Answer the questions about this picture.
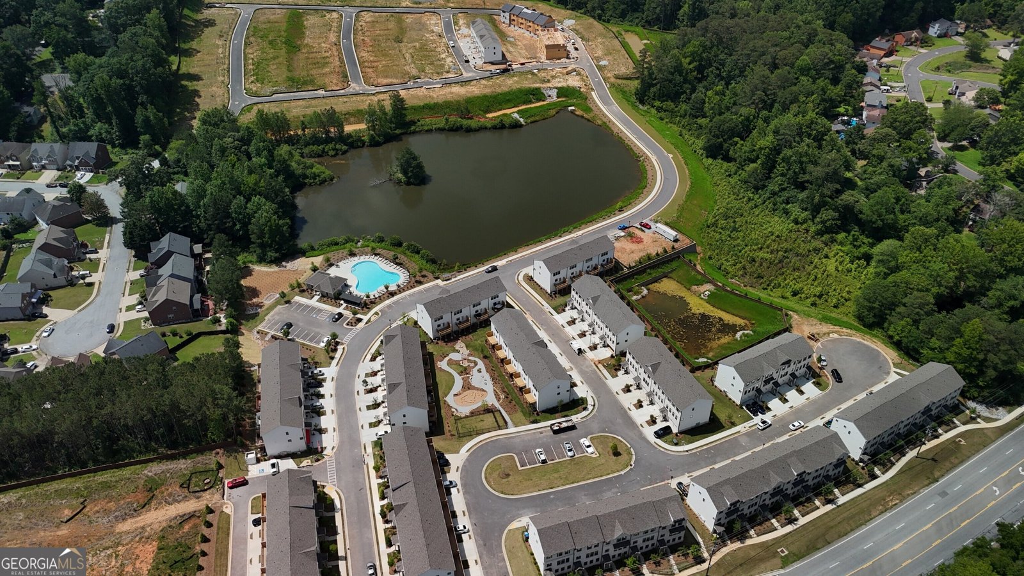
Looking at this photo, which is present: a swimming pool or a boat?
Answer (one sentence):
Visible in the photo is a swimming pool.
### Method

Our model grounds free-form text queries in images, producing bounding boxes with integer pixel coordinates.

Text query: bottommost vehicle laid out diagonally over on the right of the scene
[674,479,689,499]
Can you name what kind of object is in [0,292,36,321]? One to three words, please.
house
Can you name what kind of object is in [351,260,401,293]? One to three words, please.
swimming pool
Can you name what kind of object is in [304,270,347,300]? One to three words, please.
building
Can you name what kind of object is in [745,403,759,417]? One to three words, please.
car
